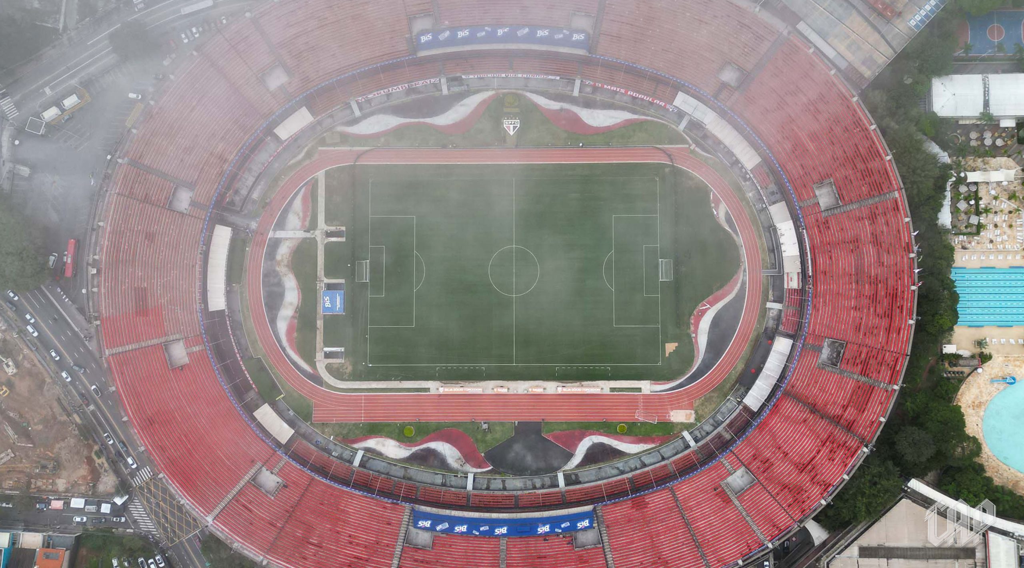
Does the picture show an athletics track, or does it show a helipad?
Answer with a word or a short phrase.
athletics track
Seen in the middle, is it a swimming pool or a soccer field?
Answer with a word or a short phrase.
soccer field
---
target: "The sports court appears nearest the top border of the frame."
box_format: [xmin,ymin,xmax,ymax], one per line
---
[951,8,1024,56]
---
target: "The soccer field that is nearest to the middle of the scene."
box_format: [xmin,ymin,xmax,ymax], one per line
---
[347,162,681,382]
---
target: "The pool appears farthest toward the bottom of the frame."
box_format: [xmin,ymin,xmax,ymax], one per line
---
[981,378,1024,474]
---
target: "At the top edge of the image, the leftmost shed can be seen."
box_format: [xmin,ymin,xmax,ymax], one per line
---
[796,19,850,69]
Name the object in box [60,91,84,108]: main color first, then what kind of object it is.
white vehicle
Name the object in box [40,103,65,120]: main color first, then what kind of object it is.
white vehicle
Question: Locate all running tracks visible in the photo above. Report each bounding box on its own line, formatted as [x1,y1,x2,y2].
[248,147,762,423]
